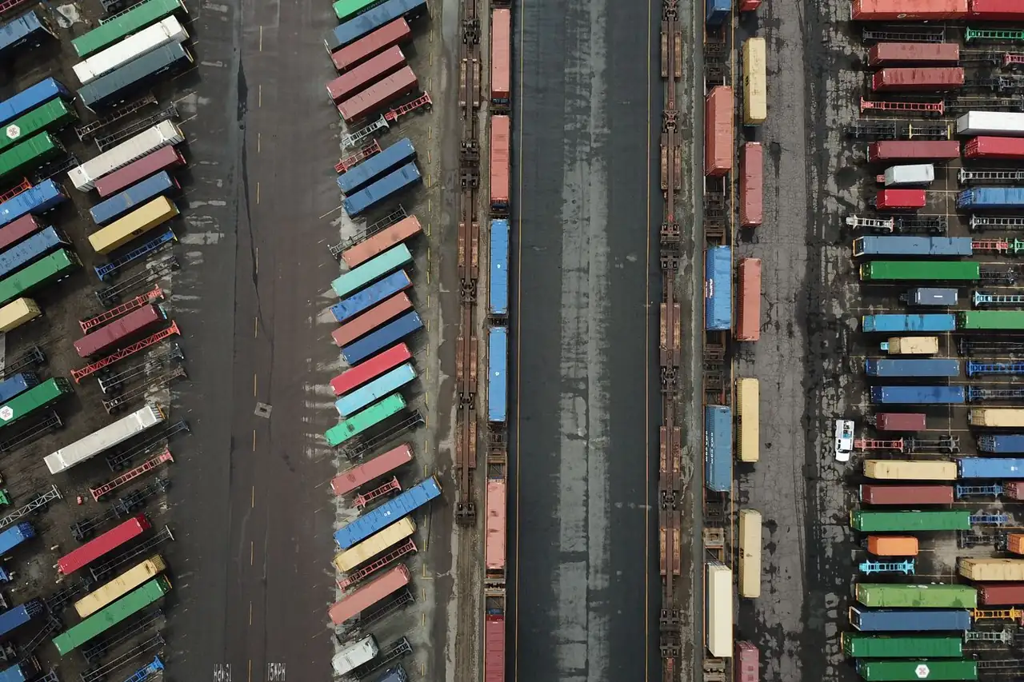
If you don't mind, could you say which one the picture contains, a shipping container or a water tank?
shipping container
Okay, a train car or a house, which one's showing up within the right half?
train car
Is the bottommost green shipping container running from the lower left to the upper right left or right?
left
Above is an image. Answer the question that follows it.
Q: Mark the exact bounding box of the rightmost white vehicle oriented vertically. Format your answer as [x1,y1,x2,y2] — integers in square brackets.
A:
[834,420,853,460]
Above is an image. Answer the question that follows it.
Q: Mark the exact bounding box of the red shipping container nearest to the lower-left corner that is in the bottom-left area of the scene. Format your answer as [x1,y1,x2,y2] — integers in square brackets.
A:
[58,514,151,575]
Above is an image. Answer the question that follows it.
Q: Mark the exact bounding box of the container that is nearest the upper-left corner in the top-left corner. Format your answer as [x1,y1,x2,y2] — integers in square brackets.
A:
[0,11,52,62]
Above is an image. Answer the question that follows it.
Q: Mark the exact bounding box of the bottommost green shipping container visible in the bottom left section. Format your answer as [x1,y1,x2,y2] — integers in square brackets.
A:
[53,573,173,656]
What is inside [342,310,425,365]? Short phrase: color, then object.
blue shipping container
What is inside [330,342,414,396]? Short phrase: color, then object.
red shipping container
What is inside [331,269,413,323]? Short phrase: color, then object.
blue shipping container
